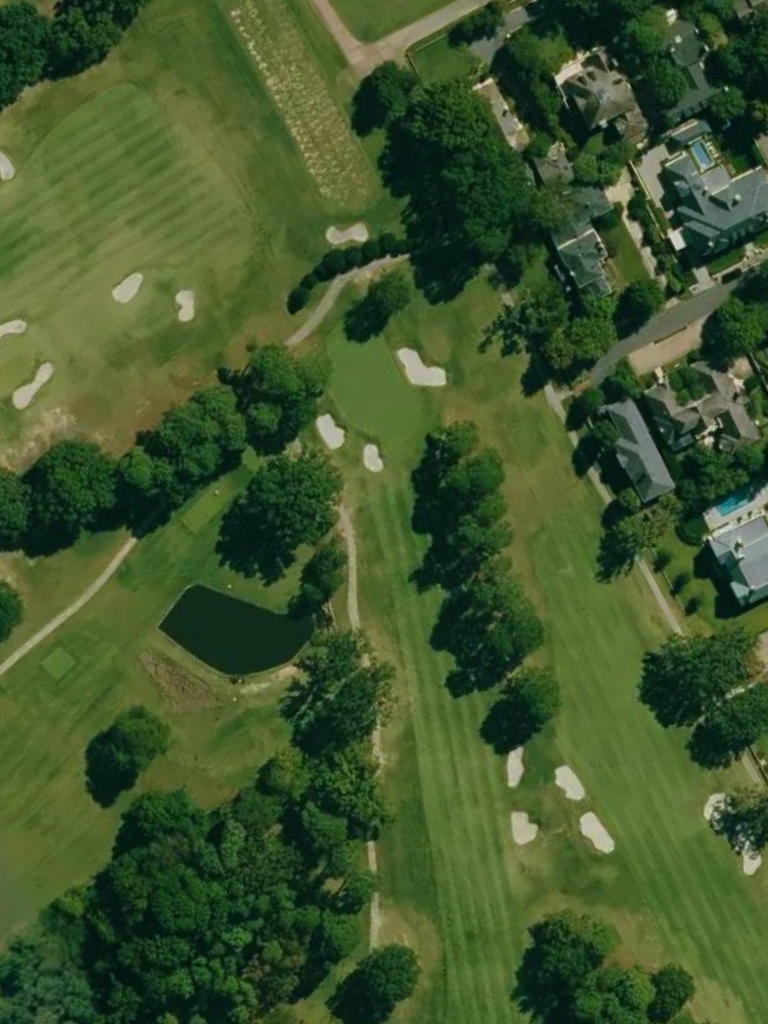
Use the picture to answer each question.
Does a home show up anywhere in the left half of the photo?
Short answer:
No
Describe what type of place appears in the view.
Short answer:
golf course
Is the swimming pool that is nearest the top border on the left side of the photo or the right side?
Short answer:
right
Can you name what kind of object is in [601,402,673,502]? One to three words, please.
house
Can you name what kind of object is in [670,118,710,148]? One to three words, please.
building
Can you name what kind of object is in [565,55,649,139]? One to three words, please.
house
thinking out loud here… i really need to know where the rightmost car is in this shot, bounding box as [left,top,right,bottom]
[723,269,740,281]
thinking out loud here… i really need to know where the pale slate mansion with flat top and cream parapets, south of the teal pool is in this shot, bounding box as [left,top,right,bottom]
[707,506,768,605]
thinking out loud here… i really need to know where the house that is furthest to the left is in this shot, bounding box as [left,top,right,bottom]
[484,76,529,149]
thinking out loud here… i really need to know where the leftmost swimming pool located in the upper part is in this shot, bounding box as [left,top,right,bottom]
[690,138,714,169]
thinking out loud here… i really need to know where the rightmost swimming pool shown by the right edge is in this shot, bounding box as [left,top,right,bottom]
[717,492,753,516]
